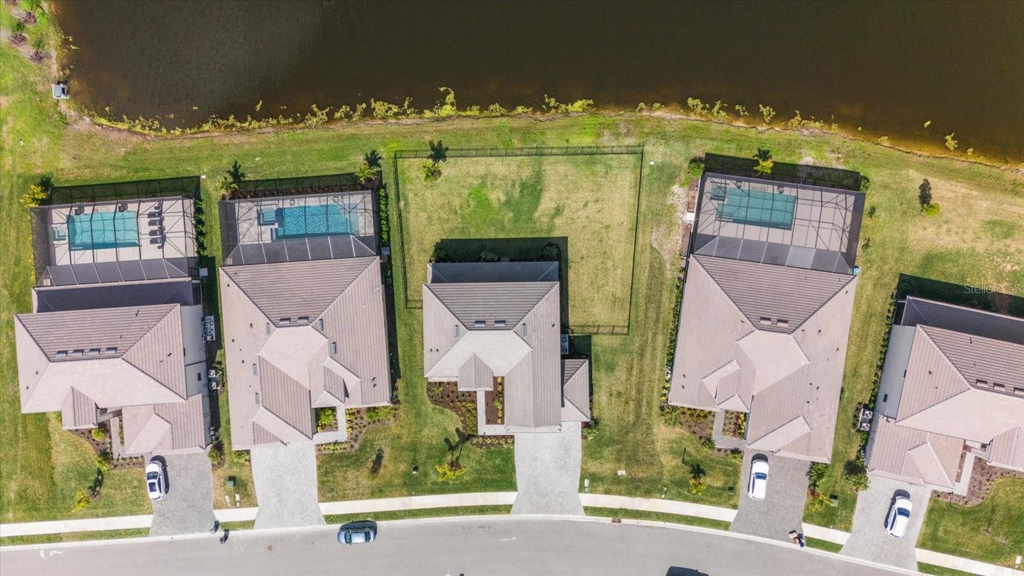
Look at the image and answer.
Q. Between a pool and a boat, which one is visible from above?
pool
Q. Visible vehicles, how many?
4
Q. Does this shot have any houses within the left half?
Yes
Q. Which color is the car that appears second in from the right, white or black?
white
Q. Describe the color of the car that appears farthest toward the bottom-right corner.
white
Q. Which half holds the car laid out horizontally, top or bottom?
bottom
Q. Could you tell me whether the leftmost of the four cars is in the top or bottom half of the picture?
bottom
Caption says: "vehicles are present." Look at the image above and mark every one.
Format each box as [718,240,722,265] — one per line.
[885,495,911,537]
[748,459,769,499]
[146,458,169,500]
[338,523,377,543]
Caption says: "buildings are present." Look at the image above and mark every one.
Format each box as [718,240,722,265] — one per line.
[864,297,1024,487]
[422,260,590,434]
[14,277,212,454]
[668,253,854,464]
[219,255,391,450]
